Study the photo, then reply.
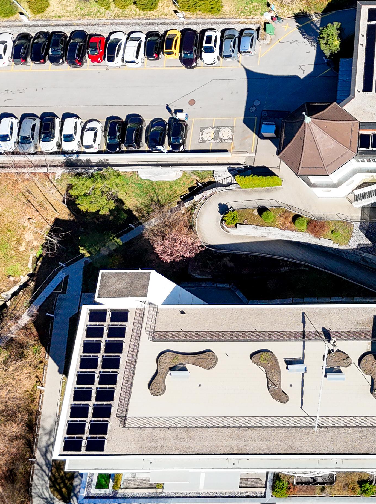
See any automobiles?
Yes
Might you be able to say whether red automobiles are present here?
Yes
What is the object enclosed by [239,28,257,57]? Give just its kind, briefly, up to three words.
car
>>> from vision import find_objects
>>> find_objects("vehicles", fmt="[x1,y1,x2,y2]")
[123,114,145,150]
[102,120,124,150]
[162,30,181,59]
[239,28,257,57]
[0,33,13,67]
[16,118,40,152]
[179,30,200,67]
[66,32,87,67]
[124,33,144,67]
[200,30,221,65]
[46,30,69,65]
[145,120,166,152]
[29,33,50,64]
[105,33,126,67]
[81,121,103,152]
[0,116,19,150]
[166,116,190,152]
[11,32,32,66]
[58,113,83,151]
[85,34,106,62]
[37,114,61,151]
[220,29,239,61]
[143,34,163,60]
